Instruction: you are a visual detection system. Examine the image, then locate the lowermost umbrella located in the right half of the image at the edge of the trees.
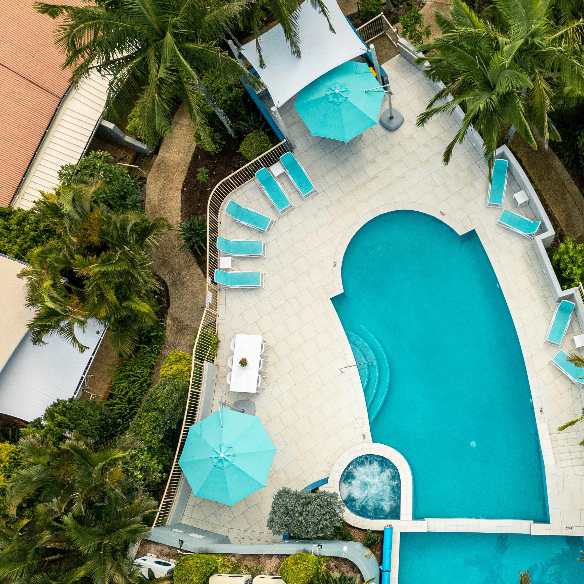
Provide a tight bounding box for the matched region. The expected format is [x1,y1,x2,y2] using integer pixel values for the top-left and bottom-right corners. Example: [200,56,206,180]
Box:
[297,61,405,142]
